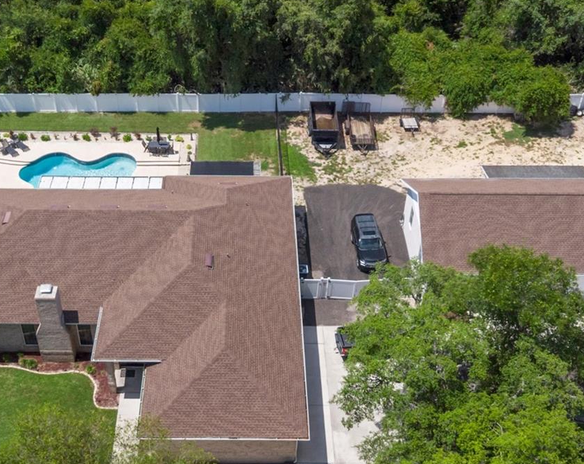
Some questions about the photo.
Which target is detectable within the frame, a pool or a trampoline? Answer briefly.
pool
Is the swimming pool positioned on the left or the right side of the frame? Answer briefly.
left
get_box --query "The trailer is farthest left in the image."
[306,95,341,158]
